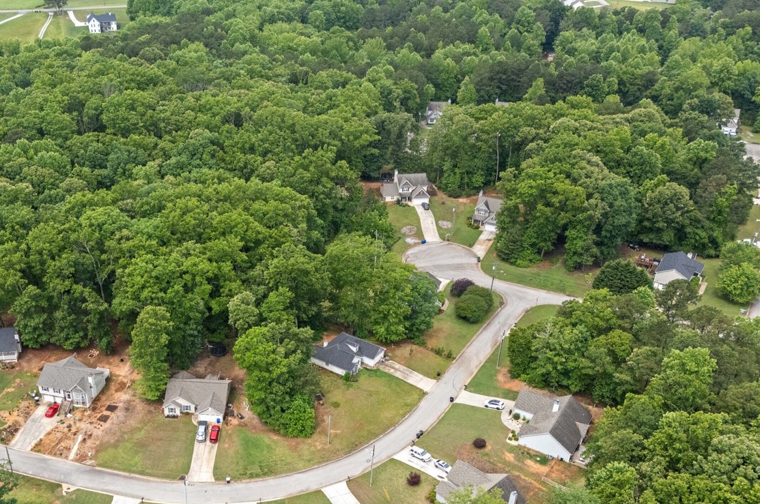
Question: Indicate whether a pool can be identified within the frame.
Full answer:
No, no pool is visible in the view.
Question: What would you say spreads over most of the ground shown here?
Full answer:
What you mostly see from above here is trees.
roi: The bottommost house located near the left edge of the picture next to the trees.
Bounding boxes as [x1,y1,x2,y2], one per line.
[35,351,111,414]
